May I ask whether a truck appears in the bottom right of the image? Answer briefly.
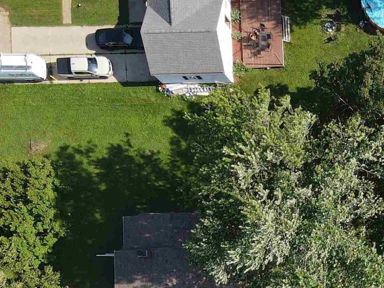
No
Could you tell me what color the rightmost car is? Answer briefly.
black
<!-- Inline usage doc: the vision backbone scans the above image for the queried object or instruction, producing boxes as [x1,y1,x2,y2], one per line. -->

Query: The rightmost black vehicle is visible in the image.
[98,24,145,50]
